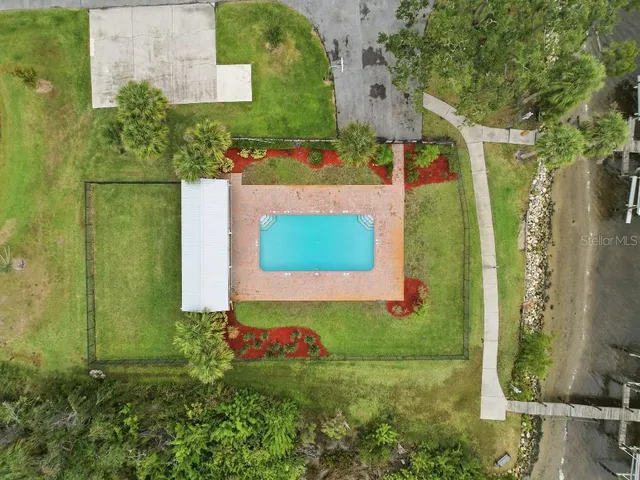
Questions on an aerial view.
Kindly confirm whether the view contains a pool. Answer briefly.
Yes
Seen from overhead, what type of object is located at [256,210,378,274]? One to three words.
swimming pool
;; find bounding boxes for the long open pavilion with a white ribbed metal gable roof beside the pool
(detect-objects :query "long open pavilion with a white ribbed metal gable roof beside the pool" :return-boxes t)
[181,179,234,312]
